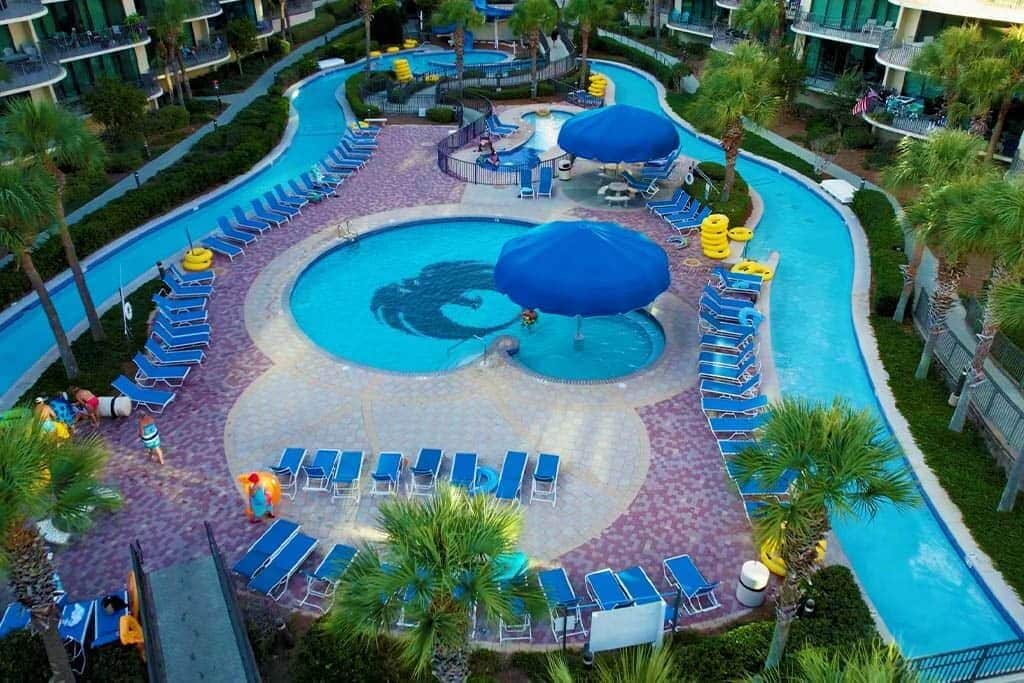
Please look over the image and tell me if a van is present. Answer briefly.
No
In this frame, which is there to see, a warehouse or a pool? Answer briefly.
pool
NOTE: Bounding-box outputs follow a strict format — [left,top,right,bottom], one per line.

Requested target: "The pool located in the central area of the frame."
[289,217,665,383]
